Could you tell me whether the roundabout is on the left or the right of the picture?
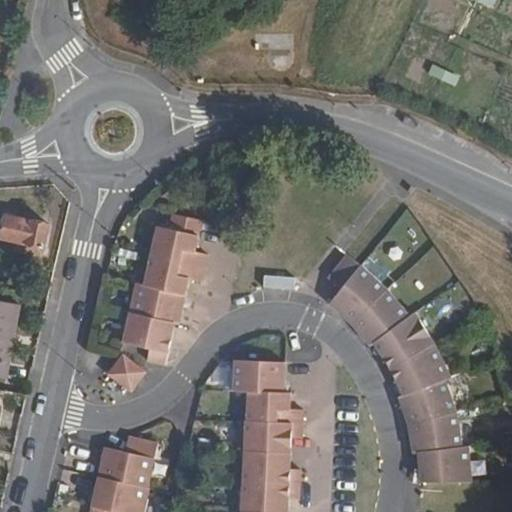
left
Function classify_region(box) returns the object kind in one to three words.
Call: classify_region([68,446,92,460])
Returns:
vehicle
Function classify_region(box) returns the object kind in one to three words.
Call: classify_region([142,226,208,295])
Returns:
house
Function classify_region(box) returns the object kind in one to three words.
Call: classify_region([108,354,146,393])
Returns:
building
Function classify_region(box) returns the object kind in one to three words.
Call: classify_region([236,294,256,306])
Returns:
vehicle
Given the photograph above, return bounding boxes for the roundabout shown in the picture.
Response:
[0,0,210,260]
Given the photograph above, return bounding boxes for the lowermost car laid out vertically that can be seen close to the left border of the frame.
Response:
[12,477,25,504]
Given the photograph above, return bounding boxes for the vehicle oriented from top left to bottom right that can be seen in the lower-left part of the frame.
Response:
[104,432,124,448]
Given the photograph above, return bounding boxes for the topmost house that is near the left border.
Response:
[0,212,49,254]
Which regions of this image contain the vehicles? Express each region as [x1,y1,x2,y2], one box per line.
[336,481,357,491]
[300,482,310,506]
[12,477,25,504]
[335,446,356,456]
[334,492,356,502]
[336,434,358,444]
[334,456,357,466]
[74,461,96,472]
[236,294,256,306]
[104,432,124,448]
[334,468,358,478]
[35,392,46,416]
[70,0,80,20]
[292,438,310,448]
[64,256,76,280]
[336,411,358,422]
[334,396,359,408]
[334,503,356,512]
[287,364,310,374]
[336,424,358,434]
[289,331,301,352]
[68,446,92,460]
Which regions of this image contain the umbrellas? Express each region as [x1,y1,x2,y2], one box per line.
[389,246,403,260]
